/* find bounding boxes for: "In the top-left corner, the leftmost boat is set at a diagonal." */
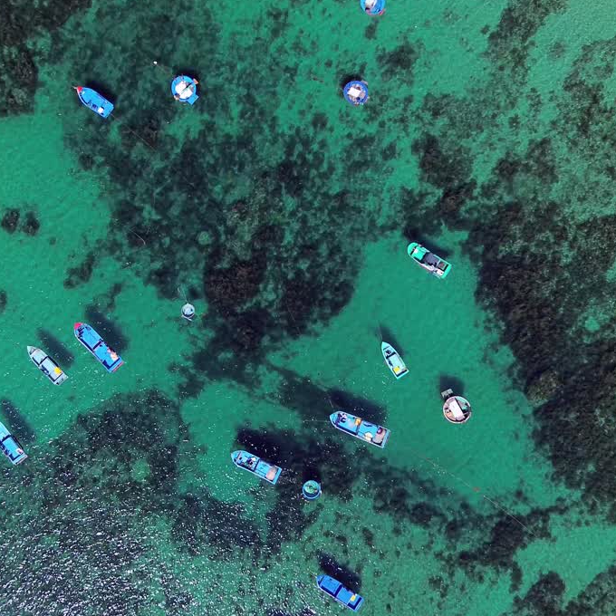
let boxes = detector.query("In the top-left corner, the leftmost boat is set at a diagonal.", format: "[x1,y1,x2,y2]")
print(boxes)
[72,84,116,119]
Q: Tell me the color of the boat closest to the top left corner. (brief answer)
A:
blue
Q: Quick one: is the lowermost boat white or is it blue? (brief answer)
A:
blue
